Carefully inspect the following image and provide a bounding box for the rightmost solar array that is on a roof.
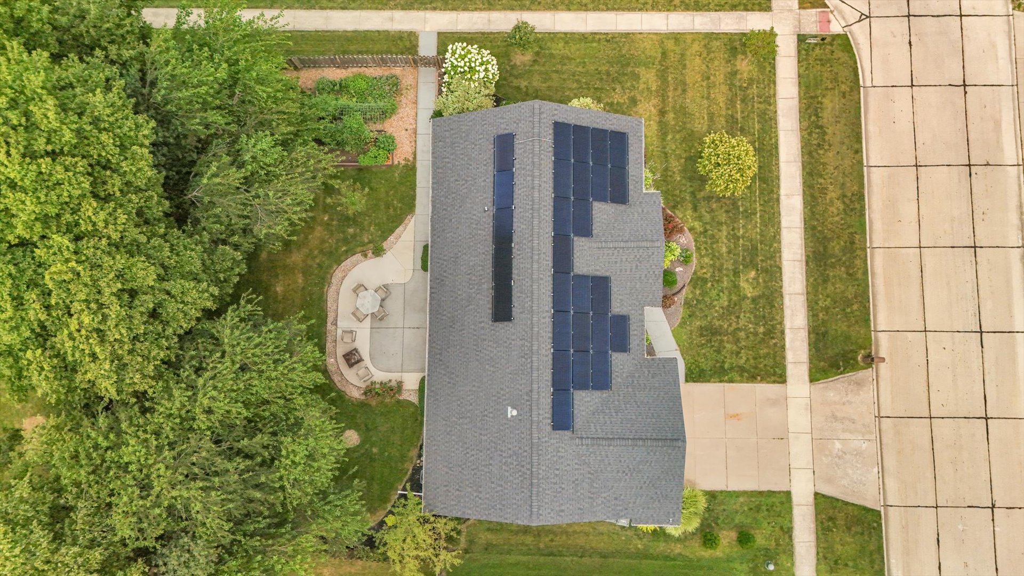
[550,123,630,430]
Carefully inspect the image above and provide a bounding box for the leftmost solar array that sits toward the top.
[492,131,518,322]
